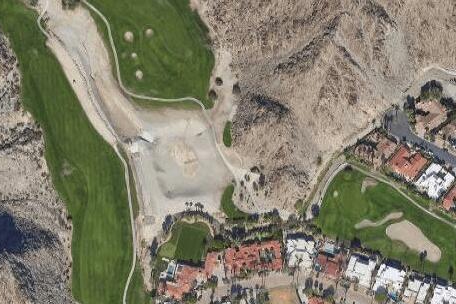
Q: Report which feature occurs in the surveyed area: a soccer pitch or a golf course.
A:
golf course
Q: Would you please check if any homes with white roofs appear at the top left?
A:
No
